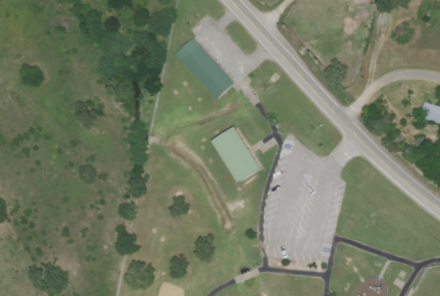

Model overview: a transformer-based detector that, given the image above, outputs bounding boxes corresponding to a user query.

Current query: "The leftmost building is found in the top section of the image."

[176,38,235,100]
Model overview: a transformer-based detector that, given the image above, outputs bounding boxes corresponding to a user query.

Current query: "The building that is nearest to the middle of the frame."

[212,126,262,184]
